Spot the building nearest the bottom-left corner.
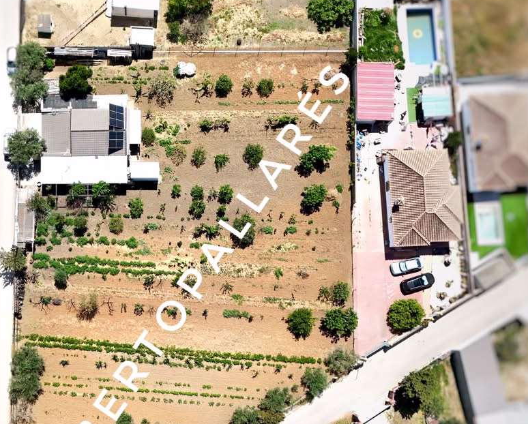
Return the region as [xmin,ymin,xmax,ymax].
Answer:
[18,202,36,242]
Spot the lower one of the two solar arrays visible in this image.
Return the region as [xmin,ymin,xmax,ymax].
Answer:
[109,134,124,150]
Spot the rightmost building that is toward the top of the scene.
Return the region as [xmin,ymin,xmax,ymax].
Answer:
[461,91,528,191]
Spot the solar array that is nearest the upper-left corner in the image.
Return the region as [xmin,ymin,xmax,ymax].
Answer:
[109,104,124,128]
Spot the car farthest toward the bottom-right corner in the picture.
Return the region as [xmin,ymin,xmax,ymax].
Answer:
[399,274,434,294]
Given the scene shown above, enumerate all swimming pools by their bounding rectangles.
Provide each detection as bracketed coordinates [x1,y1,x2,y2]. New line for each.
[475,202,505,248]
[398,1,446,76]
